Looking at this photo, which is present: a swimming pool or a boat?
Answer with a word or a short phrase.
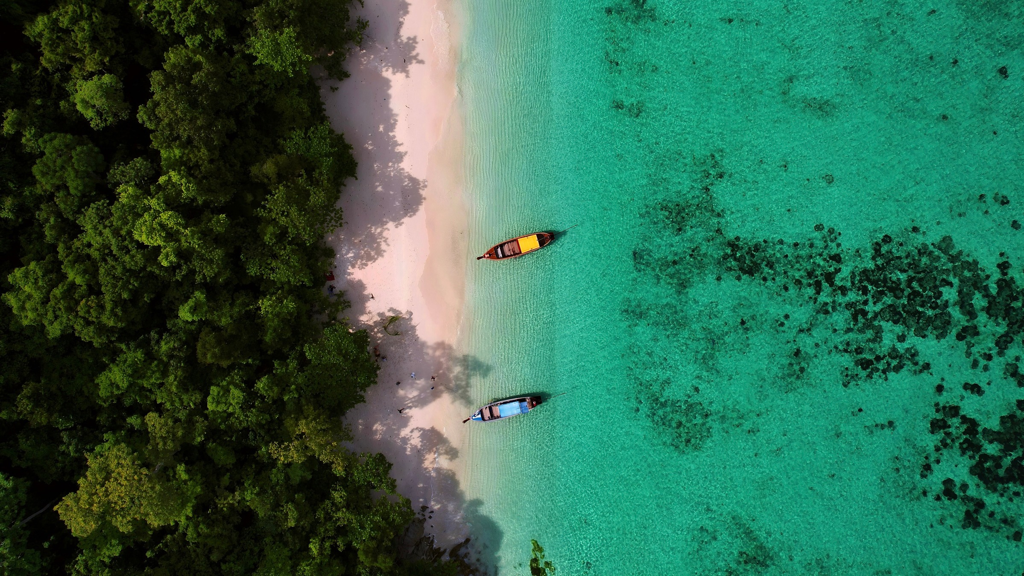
boat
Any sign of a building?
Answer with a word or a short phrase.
No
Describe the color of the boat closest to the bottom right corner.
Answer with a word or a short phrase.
blue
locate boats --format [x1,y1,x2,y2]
[461,391,564,424]
[475,223,576,260]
